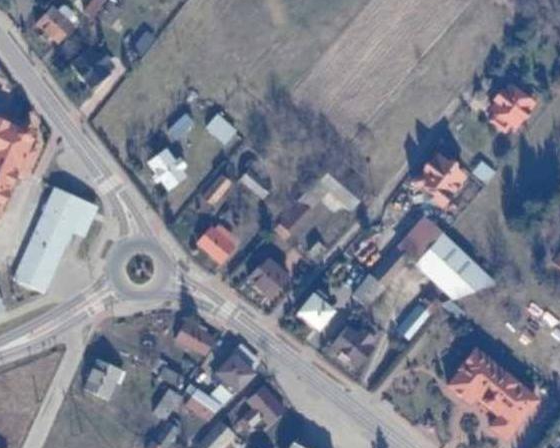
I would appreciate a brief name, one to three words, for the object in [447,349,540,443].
house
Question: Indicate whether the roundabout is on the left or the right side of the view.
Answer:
left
